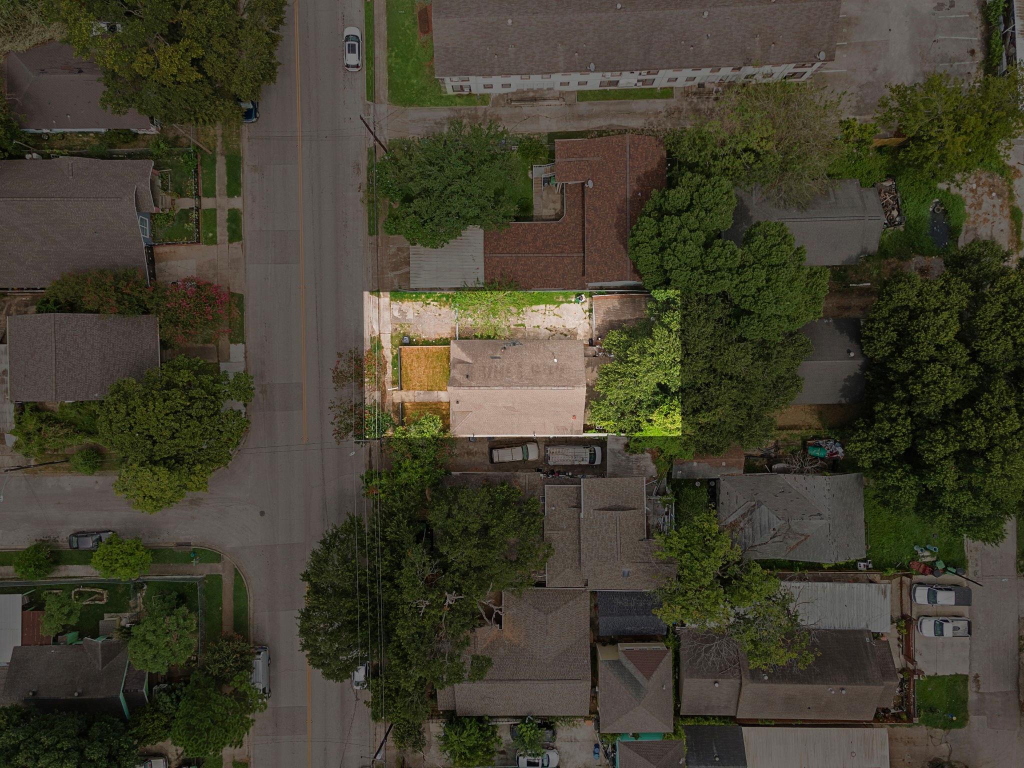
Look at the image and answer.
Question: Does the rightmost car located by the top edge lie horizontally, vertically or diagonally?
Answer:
vertically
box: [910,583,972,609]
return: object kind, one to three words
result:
truck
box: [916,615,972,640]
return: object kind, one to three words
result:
truck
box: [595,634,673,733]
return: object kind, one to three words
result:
house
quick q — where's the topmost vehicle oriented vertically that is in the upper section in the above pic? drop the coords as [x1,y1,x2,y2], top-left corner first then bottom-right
[341,28,364,75]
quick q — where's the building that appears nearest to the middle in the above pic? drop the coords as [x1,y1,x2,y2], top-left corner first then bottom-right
[449,341,586,436]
